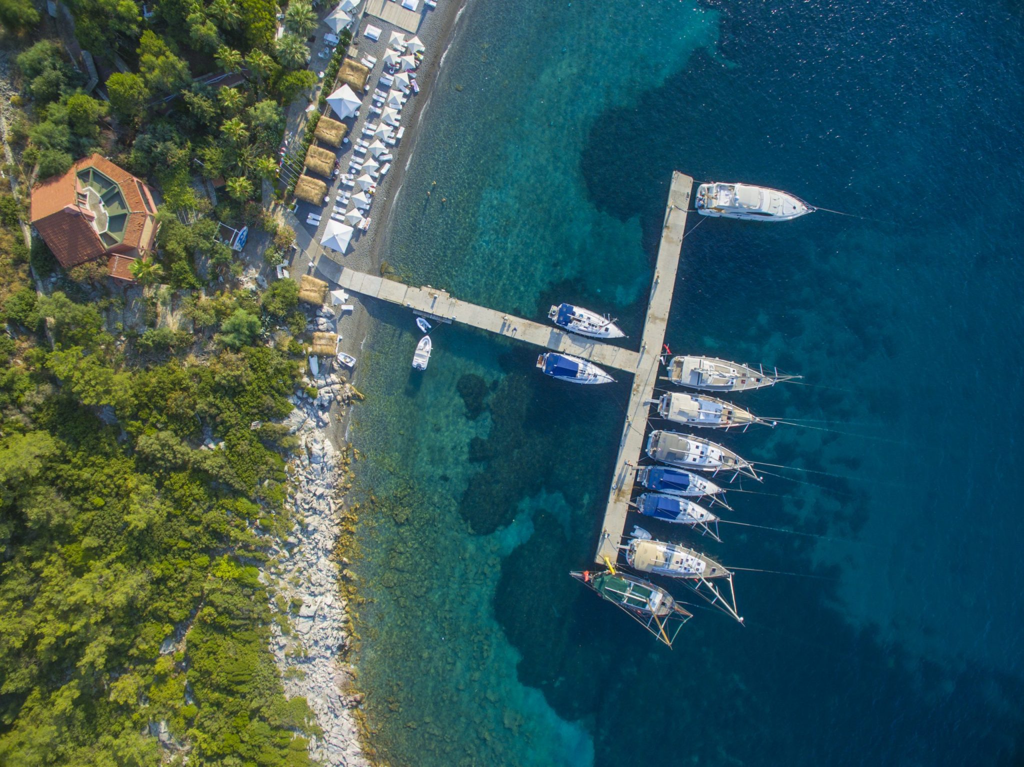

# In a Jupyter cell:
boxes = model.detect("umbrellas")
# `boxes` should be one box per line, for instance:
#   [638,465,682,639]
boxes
[384,50,400,67]
[369,140,388,158]
[376,124,393,141]
[328,87,364,122]
[352,192,369,209]
[327,11,352,36]
[335,0,361,16]
[346,208,364,227]
[363,159,380,177]
[322,221,355,254]
[383,107,398,123]
[396,74,411,89]
[390,33,405,48]
[358,174,375,192]
[332,290,347,305]
[402,56,417,72]
[389,90,404,106]
[407,37,425,55]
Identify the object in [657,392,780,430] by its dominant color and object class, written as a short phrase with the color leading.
white boat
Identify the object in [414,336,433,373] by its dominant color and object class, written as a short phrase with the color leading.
white boat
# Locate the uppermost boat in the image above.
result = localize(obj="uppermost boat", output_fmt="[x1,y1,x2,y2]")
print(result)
[692,185,819,226]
